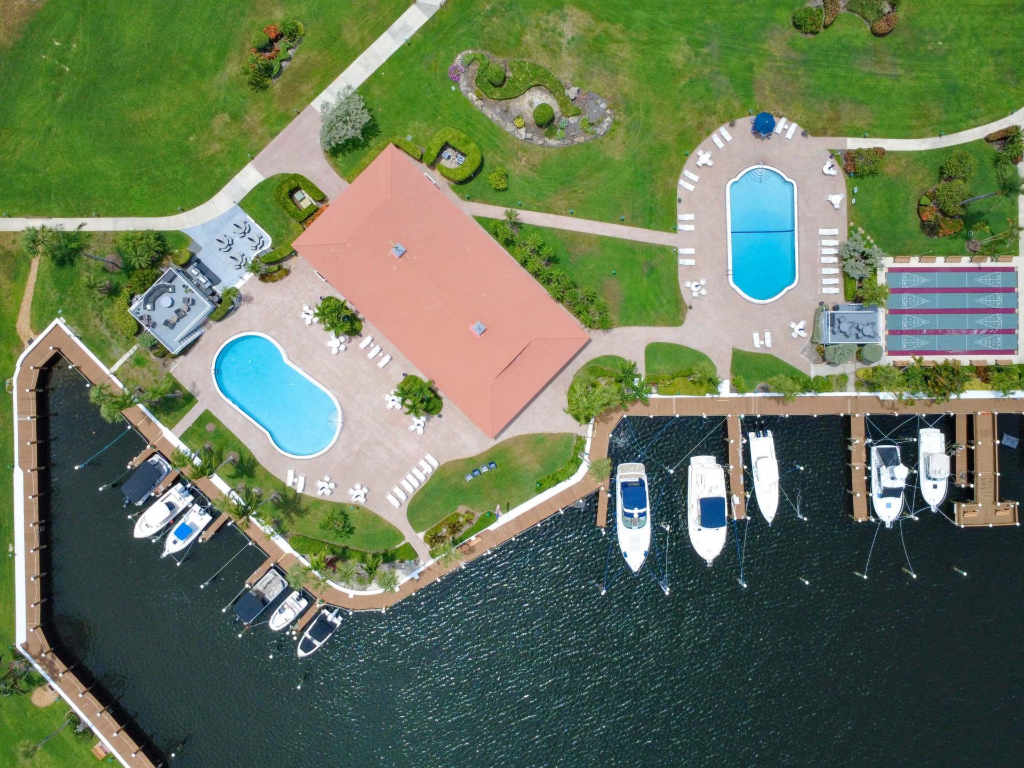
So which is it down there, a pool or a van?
pool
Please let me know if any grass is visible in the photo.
Yes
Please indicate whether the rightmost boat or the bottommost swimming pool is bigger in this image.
the swimming pool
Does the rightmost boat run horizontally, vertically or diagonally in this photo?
vertically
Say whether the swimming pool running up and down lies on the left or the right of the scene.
right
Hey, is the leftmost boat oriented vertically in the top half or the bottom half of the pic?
bottom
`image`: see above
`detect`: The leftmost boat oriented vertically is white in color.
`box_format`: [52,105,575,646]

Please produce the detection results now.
[616,462,650,572]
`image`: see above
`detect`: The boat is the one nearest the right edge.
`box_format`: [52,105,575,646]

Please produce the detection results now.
[915,426,950,512]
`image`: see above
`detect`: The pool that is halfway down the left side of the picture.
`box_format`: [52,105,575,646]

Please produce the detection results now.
[209,331,344,458]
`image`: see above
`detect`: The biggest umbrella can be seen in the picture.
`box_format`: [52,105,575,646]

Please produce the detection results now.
[753,114,774,135]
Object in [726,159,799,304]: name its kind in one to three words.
swimming pool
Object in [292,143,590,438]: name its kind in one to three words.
building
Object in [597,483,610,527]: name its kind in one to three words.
pier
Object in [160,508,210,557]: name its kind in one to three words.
boat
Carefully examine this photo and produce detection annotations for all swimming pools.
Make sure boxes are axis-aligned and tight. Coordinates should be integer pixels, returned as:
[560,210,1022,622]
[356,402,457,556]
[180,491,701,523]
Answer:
[726,159,799,304]
[209,331,344,458]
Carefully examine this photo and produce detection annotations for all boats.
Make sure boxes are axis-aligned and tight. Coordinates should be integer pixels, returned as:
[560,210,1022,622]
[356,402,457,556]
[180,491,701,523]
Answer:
[132,480,193,536]
[272,594,308,630]
[231,569,286,626]
[118,456,171,505]
[298,611,337,656]
[685,453,726,568]
[749,427,781,526]
[160,508,210,557]
[616,462,650,572]
[915,426,950,512]
[868,446,912,527]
